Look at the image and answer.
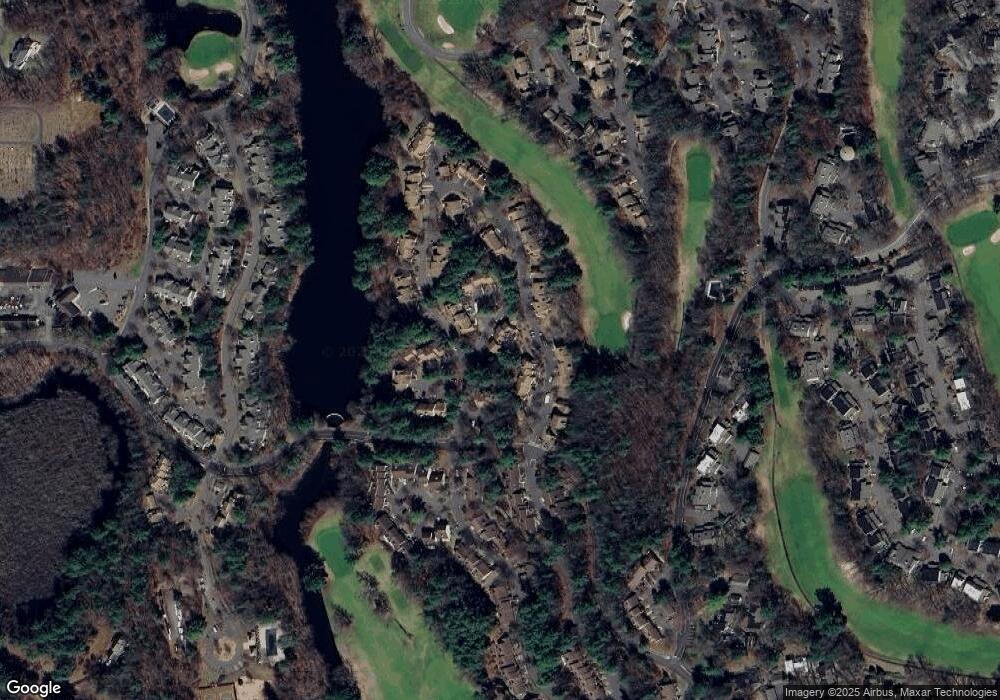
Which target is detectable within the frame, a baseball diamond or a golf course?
golf course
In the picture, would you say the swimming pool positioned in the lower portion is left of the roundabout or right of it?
to the right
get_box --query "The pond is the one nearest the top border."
[145,0,241,51]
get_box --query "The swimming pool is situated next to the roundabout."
[261,624,284,662]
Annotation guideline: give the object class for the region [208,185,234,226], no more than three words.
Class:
house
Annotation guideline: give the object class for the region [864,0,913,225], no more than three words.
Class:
golf course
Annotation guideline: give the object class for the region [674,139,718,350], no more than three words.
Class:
golf course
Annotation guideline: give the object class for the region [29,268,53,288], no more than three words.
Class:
building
